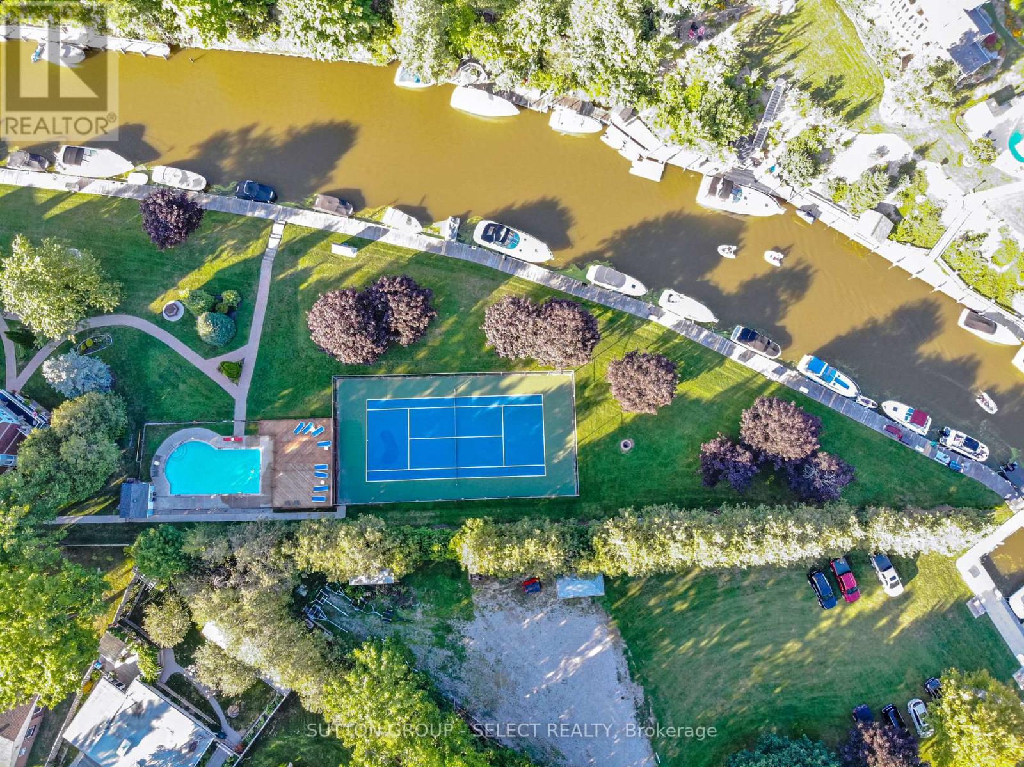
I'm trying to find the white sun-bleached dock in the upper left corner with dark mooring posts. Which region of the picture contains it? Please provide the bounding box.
[0,27,171,59]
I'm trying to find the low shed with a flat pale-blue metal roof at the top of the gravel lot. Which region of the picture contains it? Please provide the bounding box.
[555,572,604,599]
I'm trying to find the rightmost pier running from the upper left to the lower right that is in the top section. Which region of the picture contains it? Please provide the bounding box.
[782,183,1024,341]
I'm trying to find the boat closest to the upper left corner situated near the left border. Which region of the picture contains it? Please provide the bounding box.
[39,44,87,66]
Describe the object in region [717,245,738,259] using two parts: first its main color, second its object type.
white boat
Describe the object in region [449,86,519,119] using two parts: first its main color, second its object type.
white boat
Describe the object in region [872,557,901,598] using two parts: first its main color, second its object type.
white truck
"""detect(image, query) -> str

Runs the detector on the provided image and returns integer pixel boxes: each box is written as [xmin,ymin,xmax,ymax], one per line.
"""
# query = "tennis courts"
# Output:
[337,374,576,503]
